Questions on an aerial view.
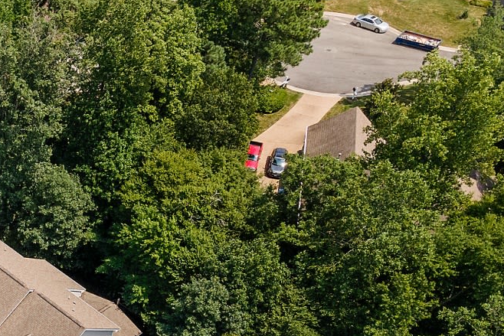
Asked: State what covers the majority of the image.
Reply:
trees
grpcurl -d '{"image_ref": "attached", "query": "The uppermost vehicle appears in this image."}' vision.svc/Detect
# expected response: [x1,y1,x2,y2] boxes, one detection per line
[352,16,388,32]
